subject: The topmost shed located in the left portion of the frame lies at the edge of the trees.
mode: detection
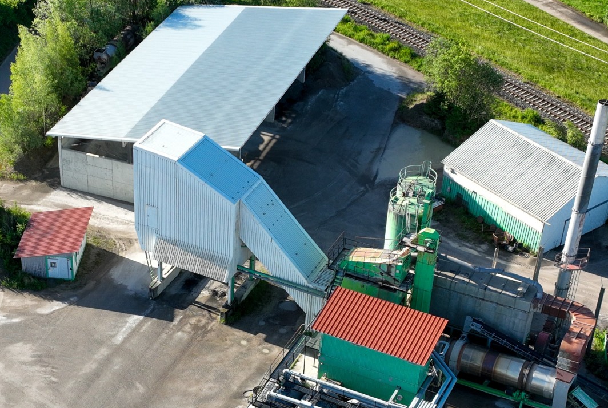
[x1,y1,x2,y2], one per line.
[46,2,348,200]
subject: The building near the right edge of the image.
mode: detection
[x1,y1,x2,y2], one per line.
[438,122,608,260]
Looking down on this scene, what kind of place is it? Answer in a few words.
industrial area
